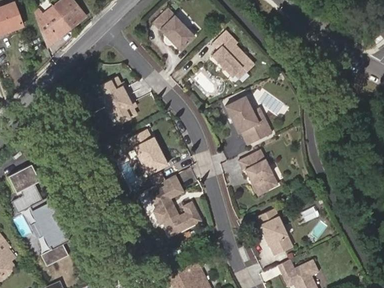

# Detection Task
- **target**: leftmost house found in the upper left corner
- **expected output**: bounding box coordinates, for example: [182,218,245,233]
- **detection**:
[0,1,24,35]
